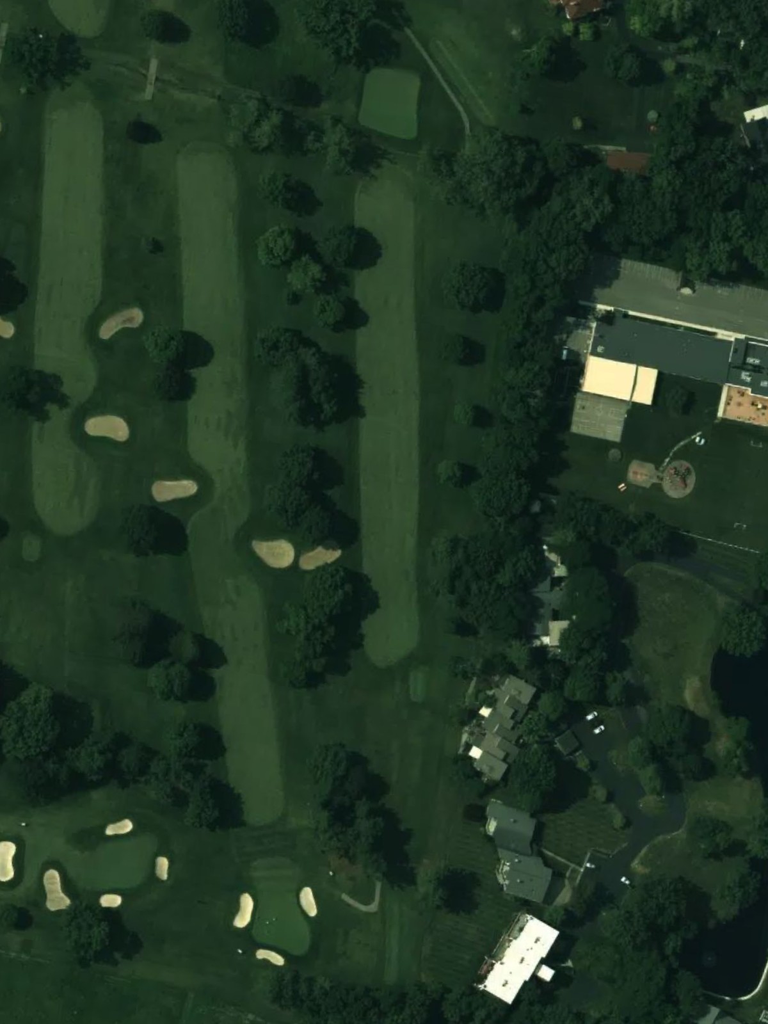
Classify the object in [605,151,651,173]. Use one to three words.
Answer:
barn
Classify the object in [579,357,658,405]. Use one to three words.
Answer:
building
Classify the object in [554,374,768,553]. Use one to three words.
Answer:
sports field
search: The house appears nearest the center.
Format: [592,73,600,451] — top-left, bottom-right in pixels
[533,572,569,645]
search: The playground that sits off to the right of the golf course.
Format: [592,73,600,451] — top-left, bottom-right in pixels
[626,460,696,498]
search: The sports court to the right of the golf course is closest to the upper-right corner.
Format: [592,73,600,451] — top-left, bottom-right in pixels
[570,392,631,442]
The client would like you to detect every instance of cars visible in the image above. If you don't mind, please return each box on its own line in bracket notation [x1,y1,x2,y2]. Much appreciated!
[586,712,597,721]
[620,877,630,885]
[593,725,605,734]
[585,863,596,869]
[740,38,745,49]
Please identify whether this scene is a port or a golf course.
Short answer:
golf course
